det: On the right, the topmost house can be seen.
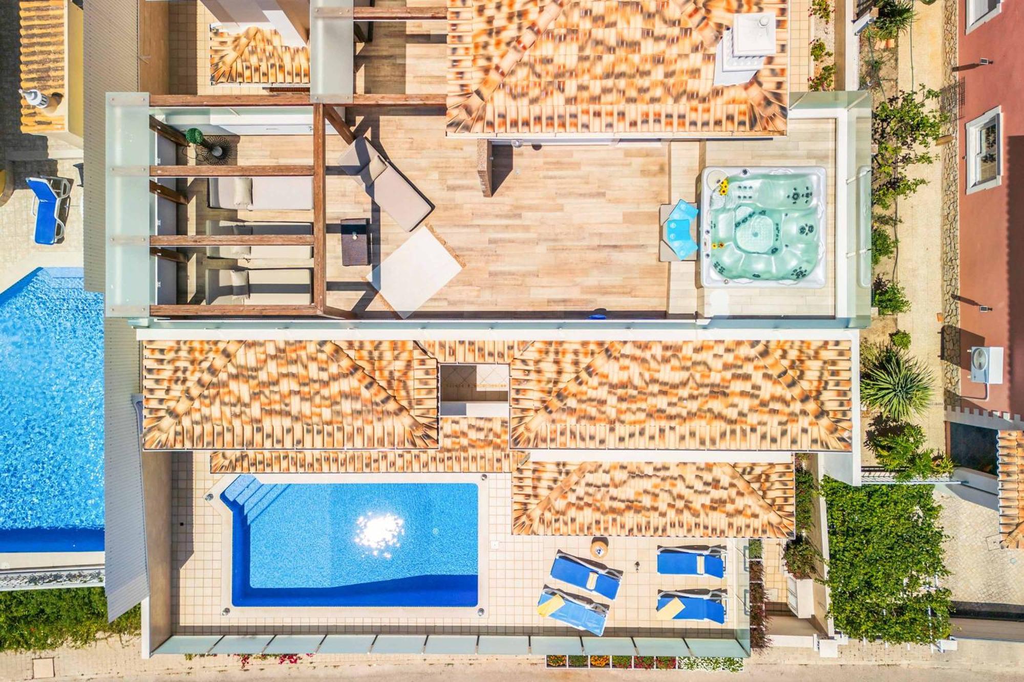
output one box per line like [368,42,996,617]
[440,0,797,148]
